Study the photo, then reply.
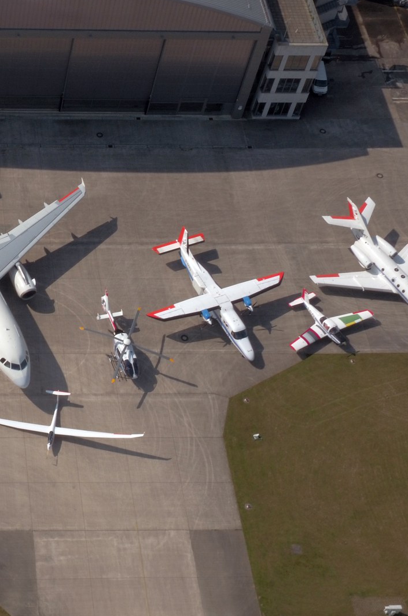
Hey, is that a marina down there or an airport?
airport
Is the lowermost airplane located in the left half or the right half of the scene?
left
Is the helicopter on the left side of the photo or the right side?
left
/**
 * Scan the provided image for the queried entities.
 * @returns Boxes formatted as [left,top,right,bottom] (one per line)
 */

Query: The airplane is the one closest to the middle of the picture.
[144,229,281,361]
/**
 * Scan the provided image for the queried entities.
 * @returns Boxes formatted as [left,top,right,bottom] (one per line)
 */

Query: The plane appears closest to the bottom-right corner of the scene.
[289,289,372,352]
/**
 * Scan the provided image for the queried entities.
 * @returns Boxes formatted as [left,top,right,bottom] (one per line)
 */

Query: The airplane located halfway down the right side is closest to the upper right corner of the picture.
[312,197,408,305]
